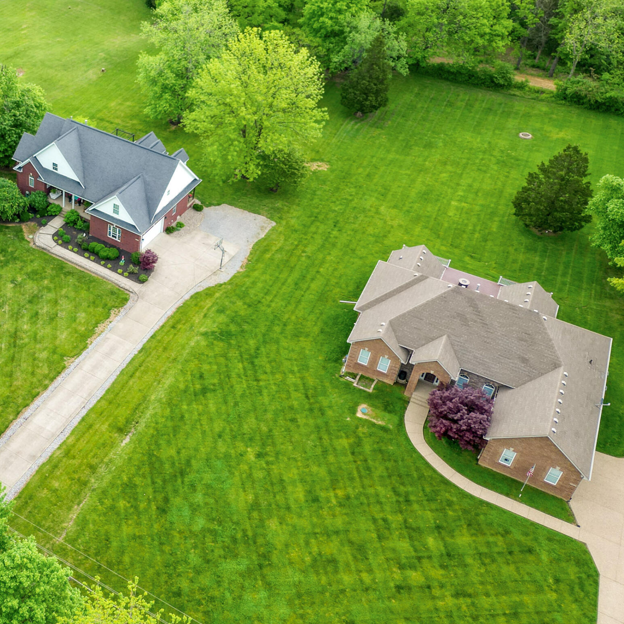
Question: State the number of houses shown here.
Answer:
2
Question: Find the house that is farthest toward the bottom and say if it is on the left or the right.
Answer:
right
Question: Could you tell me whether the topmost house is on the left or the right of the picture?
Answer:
left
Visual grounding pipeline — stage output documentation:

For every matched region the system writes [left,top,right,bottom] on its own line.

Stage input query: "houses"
[12,114,204,252]
[346,244,619,502]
